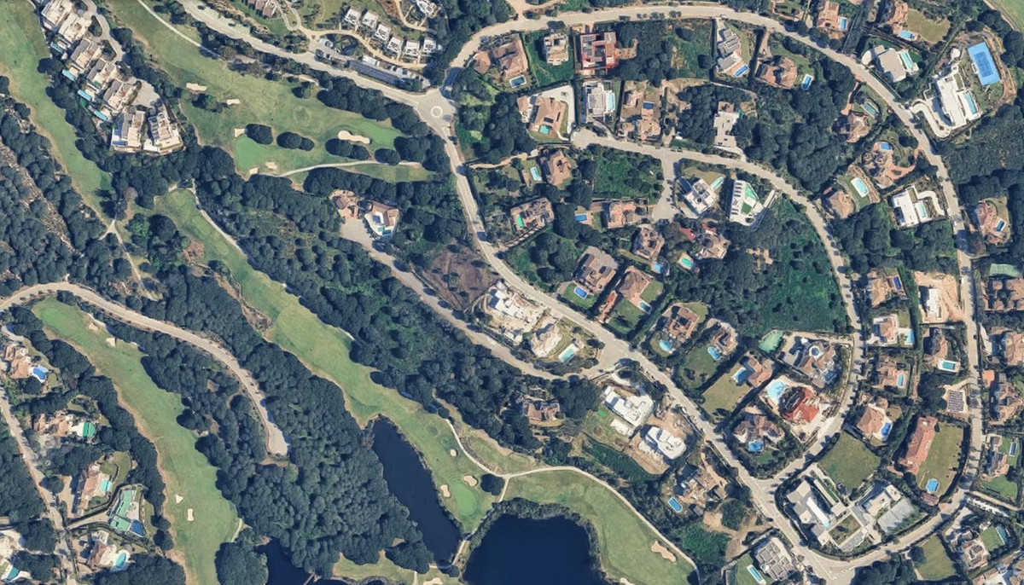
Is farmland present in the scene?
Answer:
No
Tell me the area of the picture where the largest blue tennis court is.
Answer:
top right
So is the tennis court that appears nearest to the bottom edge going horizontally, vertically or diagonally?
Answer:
diagonally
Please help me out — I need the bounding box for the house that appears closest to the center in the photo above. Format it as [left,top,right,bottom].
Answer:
[492,280,538,326]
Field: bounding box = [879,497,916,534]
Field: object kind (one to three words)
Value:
tennis court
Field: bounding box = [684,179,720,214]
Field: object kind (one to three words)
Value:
house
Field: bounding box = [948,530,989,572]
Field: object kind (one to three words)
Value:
house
